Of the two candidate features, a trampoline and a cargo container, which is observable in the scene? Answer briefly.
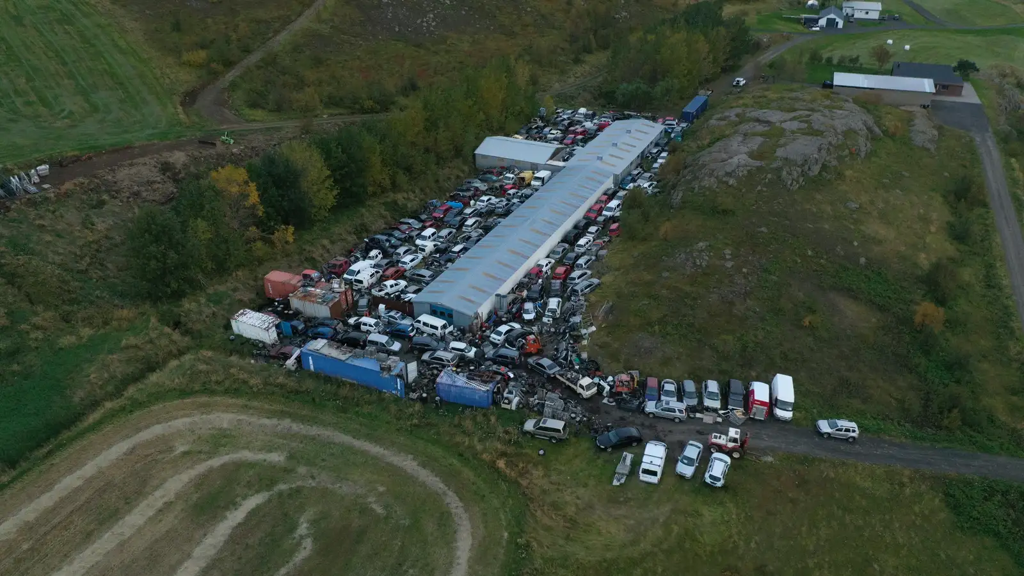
cargo container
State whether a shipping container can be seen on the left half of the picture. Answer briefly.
Yes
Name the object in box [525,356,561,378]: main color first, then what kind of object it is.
gray car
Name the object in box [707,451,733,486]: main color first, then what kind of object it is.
white car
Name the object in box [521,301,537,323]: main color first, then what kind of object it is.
white car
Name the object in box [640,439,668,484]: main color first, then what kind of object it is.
white van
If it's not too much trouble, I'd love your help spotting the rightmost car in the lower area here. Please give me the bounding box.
[816,418,861,442]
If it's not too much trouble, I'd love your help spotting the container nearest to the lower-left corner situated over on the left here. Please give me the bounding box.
[230,307,284,345]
